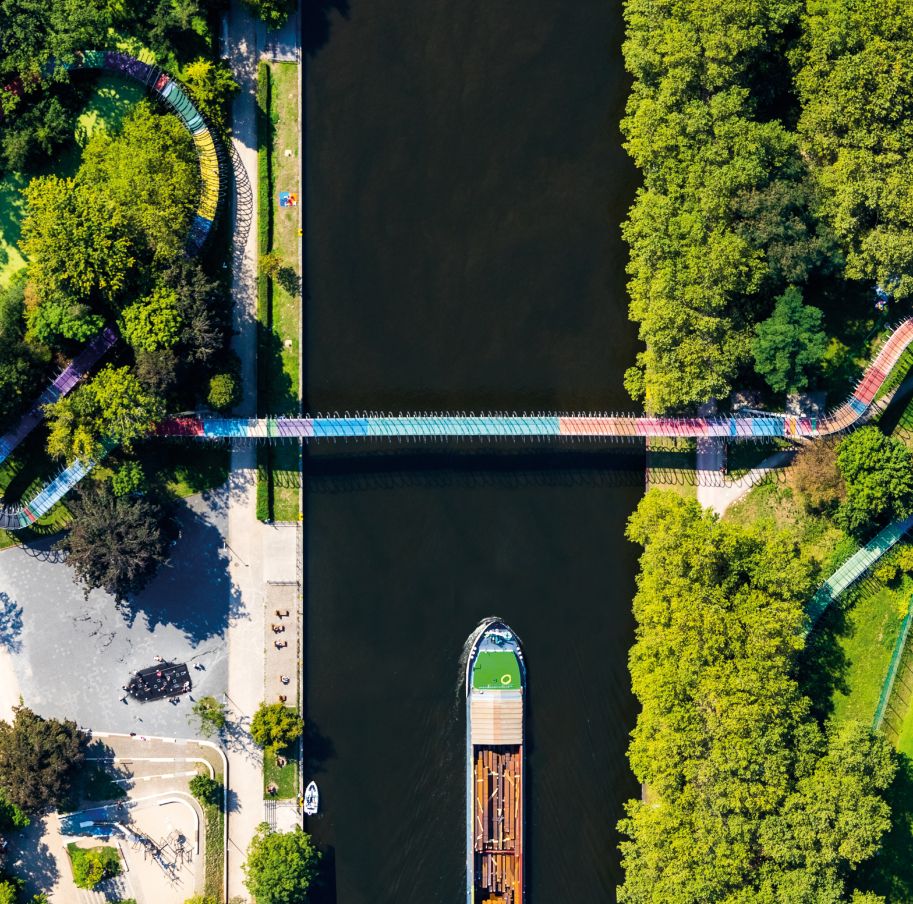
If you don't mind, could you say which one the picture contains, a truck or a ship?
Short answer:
ship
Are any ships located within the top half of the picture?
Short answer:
No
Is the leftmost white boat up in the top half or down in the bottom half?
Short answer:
bottom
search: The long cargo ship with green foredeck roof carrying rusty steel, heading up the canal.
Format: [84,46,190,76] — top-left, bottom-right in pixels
[466,620,527,904]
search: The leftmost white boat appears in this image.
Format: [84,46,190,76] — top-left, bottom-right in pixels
[299,779,318,816]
